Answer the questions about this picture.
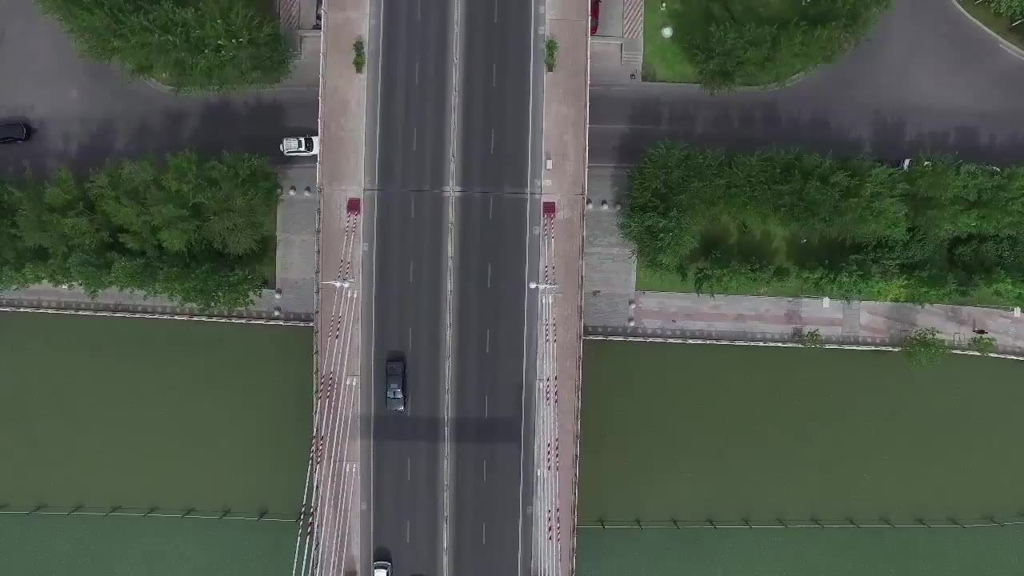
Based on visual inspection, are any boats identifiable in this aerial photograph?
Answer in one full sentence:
No, there isn't any boat down there.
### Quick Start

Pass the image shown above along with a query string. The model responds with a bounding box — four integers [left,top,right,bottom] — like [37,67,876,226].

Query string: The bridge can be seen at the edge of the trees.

[291,0,592,576]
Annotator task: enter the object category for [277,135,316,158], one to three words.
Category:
car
